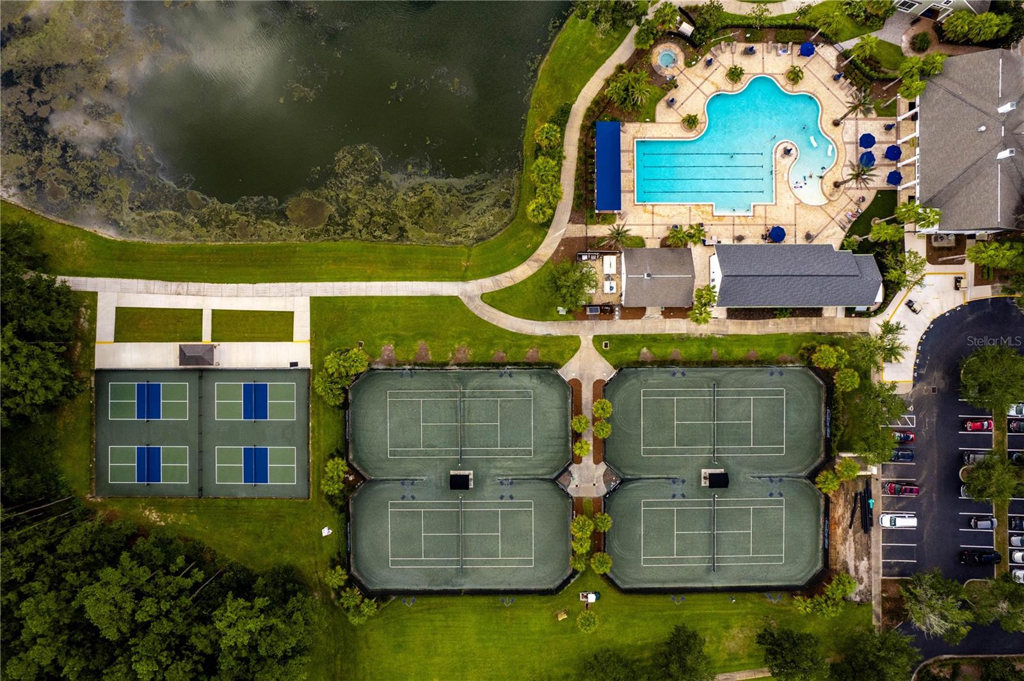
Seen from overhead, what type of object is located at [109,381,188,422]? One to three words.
sports court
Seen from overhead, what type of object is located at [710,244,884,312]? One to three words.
building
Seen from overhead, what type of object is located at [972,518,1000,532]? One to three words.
car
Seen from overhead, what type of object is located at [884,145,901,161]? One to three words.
umbrella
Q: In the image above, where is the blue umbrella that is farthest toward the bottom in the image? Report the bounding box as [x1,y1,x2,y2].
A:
[768,226,785,242]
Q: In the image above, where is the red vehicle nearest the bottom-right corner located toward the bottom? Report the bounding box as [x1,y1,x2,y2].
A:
[887,483,924,498]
